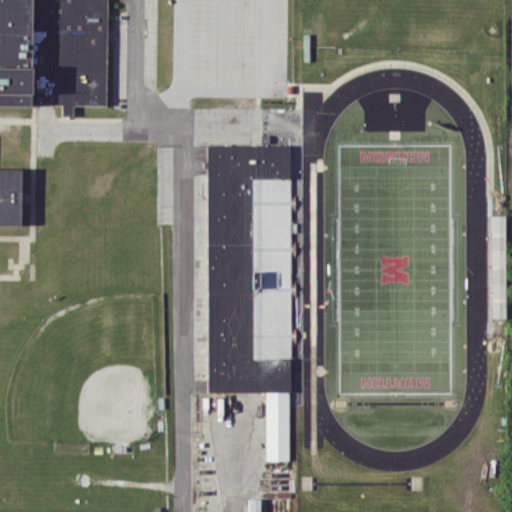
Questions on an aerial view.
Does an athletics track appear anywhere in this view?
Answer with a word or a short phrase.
Yes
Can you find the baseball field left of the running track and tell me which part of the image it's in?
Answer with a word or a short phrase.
bottom left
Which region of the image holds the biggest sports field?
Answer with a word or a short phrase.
right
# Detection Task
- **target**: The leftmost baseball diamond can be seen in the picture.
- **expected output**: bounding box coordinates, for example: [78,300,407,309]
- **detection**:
[78,364,152,445]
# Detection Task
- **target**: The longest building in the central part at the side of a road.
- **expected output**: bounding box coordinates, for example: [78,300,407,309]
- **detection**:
[208,146,296,392]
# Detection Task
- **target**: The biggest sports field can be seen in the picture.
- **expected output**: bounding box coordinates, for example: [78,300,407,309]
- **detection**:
[325,89,466,450]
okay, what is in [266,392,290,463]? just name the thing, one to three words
shed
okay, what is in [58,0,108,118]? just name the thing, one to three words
building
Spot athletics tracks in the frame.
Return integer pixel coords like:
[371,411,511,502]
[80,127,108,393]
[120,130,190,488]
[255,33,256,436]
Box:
[304,68,486,471]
